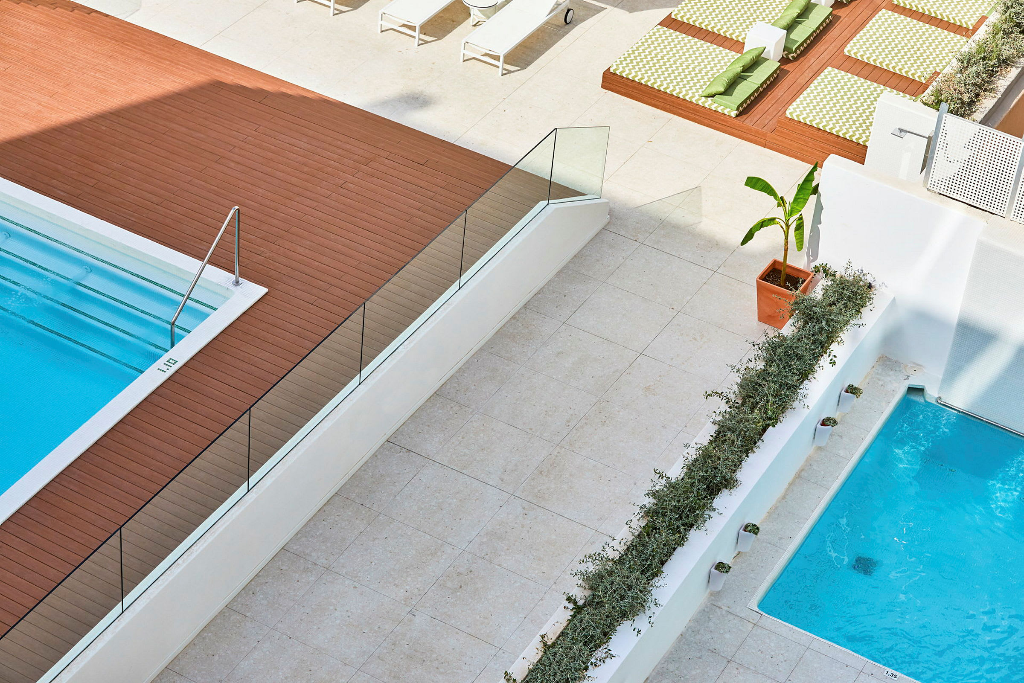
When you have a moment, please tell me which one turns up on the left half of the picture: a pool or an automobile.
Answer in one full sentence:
You can see a pool on the left half of the picture.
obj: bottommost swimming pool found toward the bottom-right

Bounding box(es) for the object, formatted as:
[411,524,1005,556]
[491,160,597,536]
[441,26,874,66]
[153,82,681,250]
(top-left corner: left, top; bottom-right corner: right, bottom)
[761,389,1024,683]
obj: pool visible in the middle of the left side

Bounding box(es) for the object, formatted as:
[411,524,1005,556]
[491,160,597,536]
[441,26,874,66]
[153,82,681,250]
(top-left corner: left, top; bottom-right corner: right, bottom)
[0,194,235,486]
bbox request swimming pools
[0,194,235,486]
[761,389,1024,683]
